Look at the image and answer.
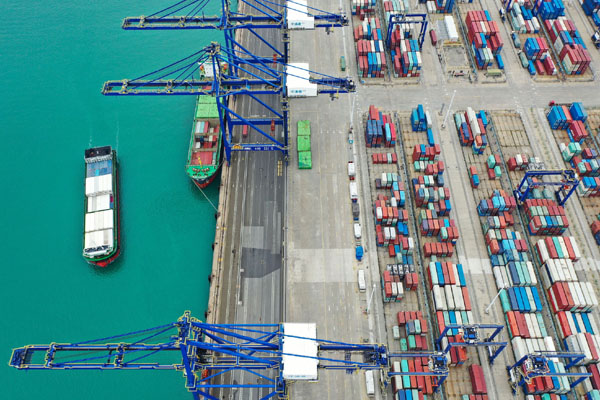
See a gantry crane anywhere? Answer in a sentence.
Yes, there's a gantry crane here.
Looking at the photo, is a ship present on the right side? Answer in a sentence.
No, on the right side there is no ship.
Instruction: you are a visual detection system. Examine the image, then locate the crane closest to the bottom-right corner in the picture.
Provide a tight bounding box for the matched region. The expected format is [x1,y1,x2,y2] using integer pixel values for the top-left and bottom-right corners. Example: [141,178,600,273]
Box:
[511,351,596,392]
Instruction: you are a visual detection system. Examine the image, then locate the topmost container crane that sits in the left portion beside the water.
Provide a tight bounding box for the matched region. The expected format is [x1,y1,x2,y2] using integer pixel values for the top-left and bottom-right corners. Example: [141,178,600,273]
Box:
[120,0,354,102]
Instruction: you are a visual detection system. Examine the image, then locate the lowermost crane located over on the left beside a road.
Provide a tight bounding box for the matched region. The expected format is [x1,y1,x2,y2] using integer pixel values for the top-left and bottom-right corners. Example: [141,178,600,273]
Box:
[5,312,388,400]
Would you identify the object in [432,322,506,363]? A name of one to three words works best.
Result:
container crane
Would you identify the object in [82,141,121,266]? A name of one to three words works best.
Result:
ship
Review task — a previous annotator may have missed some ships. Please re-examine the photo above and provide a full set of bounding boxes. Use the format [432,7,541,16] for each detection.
[186,52,224,189]
[82,141,121,266]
